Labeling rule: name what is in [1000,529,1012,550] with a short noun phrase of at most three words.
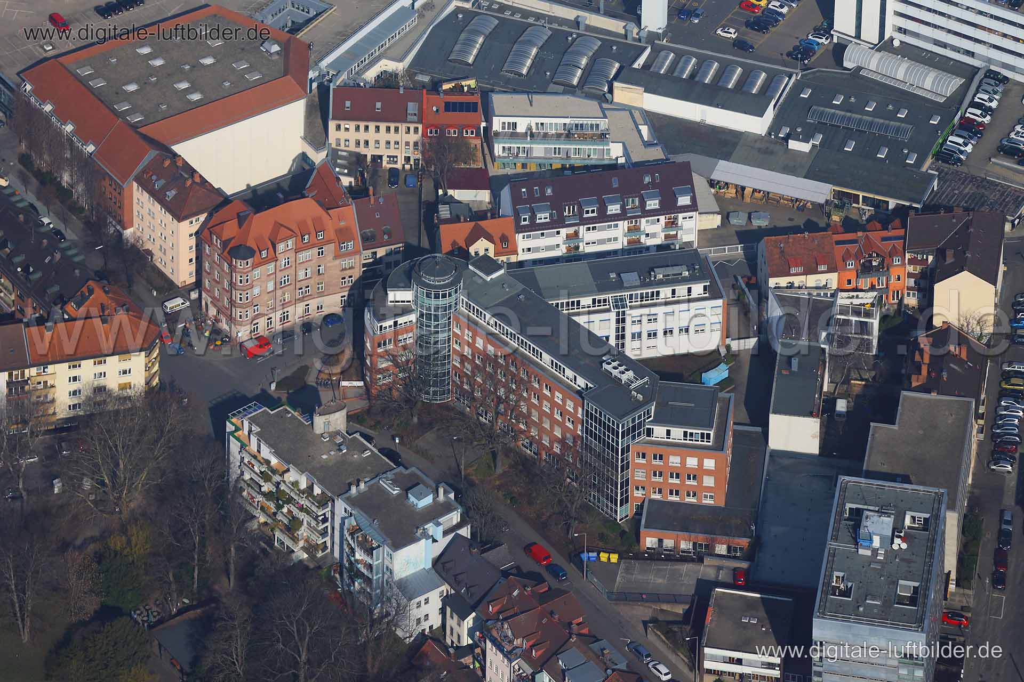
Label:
vehicle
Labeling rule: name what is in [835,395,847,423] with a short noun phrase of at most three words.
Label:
vehicle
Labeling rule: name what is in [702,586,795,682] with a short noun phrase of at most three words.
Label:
building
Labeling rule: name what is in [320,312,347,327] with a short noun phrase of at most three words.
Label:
car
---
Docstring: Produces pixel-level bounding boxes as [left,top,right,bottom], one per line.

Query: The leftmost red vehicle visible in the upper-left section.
[47,8,71,32]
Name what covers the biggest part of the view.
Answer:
buildings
